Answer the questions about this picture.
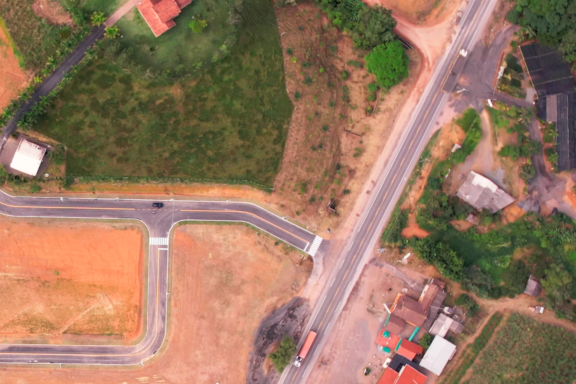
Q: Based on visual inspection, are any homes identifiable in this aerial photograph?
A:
Yes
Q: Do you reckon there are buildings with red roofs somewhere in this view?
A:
Yes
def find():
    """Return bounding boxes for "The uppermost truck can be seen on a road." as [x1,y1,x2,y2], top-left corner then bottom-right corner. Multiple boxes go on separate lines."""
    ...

[441,50,467,93]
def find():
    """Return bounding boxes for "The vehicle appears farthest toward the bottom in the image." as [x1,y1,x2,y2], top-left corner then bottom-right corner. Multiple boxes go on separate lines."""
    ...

[292,330,316,367]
